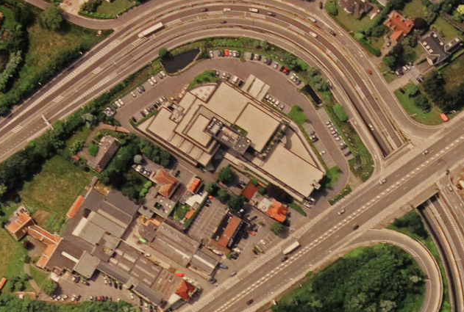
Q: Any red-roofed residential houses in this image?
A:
Yes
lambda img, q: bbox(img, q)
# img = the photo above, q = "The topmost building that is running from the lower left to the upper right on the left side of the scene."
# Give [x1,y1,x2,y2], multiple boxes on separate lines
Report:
[85,136,119,172]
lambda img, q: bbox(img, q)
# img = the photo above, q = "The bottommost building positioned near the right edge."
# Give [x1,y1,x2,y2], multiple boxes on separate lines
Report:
[416,33,463,68]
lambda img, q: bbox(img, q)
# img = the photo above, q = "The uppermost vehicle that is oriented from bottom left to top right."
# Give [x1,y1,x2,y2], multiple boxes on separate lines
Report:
[138,20,165,40]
